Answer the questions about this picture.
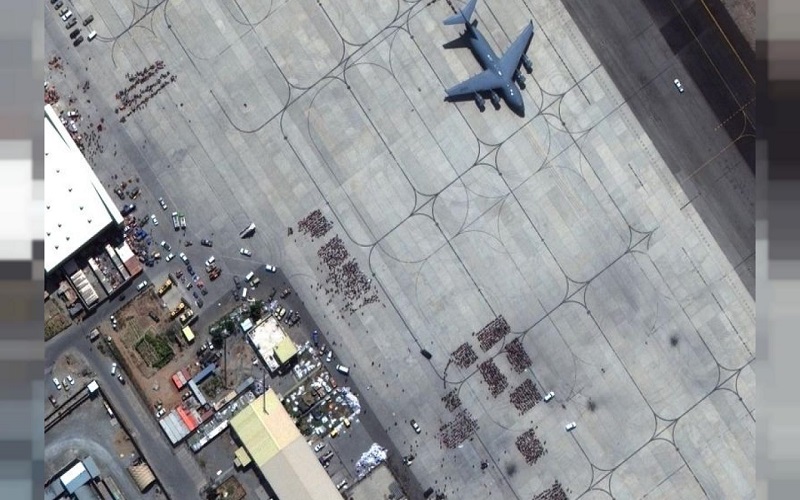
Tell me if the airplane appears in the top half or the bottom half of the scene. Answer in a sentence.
Seen from above, the airplane lies in the top half of the view.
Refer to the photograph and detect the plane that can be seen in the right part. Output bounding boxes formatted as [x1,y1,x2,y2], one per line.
[442,0,533,116]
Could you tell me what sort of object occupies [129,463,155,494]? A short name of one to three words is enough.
shed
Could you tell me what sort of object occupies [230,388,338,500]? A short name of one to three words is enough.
hangar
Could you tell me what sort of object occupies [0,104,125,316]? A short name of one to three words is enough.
hangar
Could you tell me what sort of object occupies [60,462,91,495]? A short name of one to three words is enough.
building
